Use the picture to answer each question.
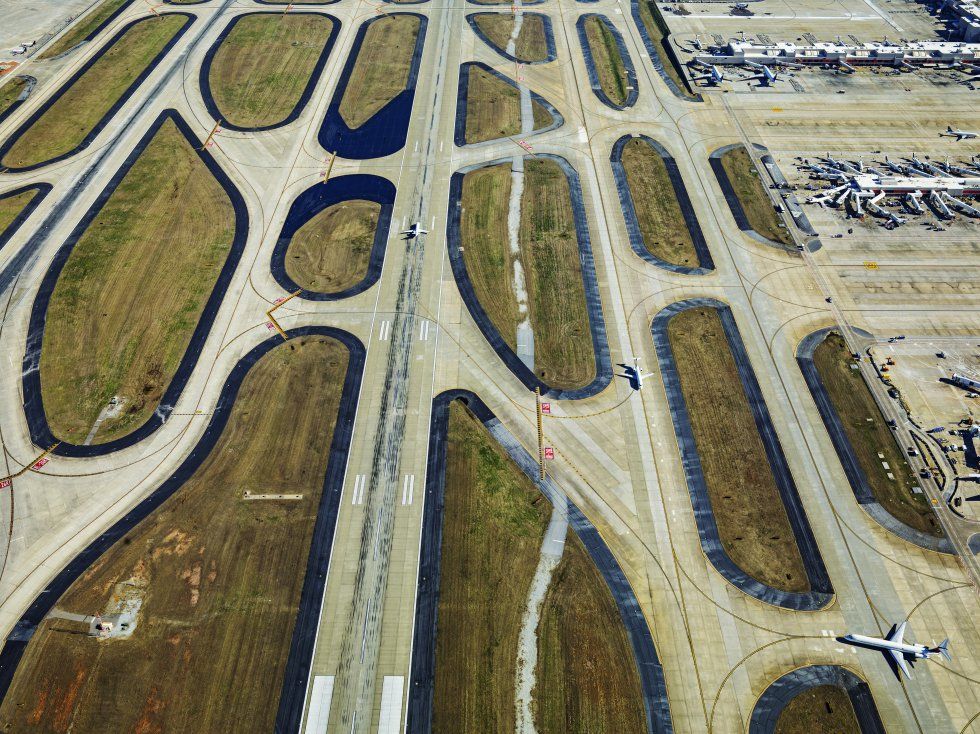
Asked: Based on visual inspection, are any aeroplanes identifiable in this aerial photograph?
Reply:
Yes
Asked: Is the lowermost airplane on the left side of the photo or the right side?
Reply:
right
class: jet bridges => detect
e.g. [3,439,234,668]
[958,59,980,73]
[869,189,905,226]
[774,59,807,71]
[900,58,918,72]
[820,182,853,196]
[854,190,876,217]
[838,58,857,75]
[835,187,854,207]
[922,161,954,178]
[695,58,713,70]
[948,164,980,176]
[929,189,954,219]
[864,166,887,178]
[900,166,937,178]
[837,161,864,176]
[906,190,924,214]
[744,58,765,71]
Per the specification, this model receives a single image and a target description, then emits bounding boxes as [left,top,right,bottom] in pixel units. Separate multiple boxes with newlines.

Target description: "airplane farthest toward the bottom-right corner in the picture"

[843,621,954,681]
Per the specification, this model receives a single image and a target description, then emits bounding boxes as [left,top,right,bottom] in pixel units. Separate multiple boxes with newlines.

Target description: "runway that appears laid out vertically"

[299,0,464,734]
